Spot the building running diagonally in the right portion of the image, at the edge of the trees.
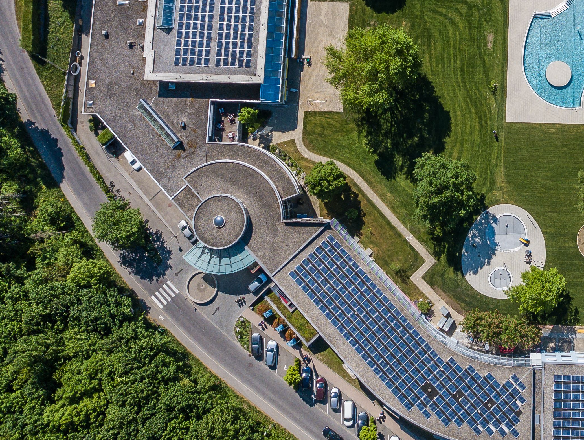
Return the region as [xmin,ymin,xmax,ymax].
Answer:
[252,217,532,440]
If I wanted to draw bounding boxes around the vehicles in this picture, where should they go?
[246,272,269,293]
[251,333,262,358]
[321,425,344,440]
[357,411,367,432]
[177,219,196,243]
[342,399,354,427]
[122,150,143,172]
[316,376,326,400]
[329,387,341,410]
[390,435,400,440]
[265,340,277,366]
[301,366,312,388]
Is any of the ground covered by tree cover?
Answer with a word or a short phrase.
Yes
